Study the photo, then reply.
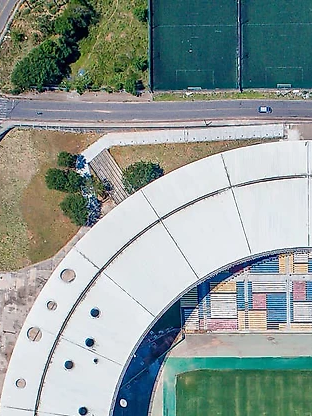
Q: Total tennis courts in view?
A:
0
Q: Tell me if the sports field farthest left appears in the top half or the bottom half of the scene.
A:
top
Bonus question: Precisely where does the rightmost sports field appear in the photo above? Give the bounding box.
[243,0,312,87]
